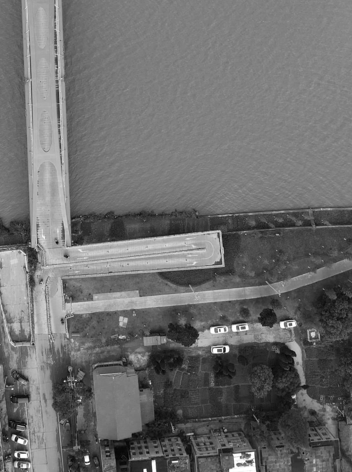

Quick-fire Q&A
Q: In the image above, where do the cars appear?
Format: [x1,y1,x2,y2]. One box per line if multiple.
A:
[14,450,29,459]
[13,460,31,470]
[11,394,30,404]
[11,434,29,446]
[279,319,297,329]
[210,325,228,333]
[211,344,229,354]
[91,453,100,472]
[10,421,27,431]
[12,370,29,386]
[231,323,249,332]
[82,452,91,467]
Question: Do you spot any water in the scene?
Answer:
Yes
